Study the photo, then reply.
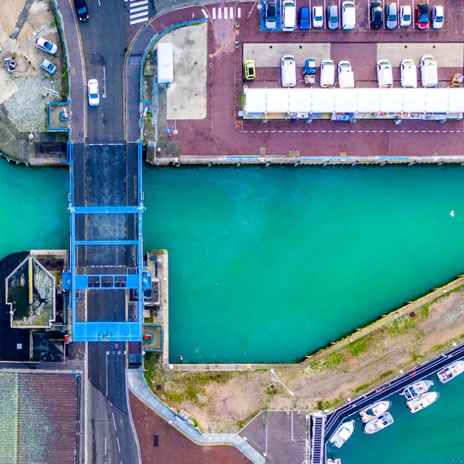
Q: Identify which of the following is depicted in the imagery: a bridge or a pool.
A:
bridge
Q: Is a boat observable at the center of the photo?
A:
No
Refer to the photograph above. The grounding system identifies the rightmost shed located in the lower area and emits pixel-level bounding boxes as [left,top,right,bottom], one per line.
[145,278,160,305]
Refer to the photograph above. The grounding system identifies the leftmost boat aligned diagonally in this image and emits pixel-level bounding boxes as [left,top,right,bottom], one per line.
[329,421,355,447]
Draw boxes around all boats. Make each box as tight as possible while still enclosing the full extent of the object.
[403,391,439,413]
[364,410,395,432]
[326,455,341,464]
[435,362,464,383]
[401,381,434,400]
[329,421,355,447]
[357,401,393,422]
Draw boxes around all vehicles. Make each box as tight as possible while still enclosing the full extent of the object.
[37,58,59,76]
[87,79,100,108]
[326,4,340,30]
[341,1,356,31]
[304,58,316,82]
[265,2,277,30]
[377,59,396,87]
[320,59,336,87]
[416,2,430,30]
[431,4,445,30]
[398,4,412,27]
[282,0,297,32]
[370,0,384,29]
[311,5,324,28]
[400,59,418,87]
[385,2,399,30]
[298,5,311,31]
[420,54,438,87]
[338,60,356,87]
[243,59,256,81]
[281,54,297,87]
[451,74,464,84]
